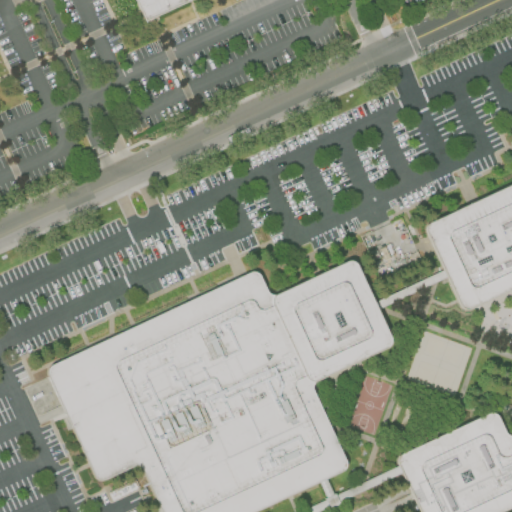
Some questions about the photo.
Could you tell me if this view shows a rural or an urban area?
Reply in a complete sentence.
The land in this view is best described as urban.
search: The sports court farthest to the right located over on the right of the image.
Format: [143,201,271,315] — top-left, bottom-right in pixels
[410,332,472,392]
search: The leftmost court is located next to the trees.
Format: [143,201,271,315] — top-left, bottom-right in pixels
[352,376,392,436]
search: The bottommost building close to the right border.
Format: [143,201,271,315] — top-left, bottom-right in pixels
[397,414,512,512]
